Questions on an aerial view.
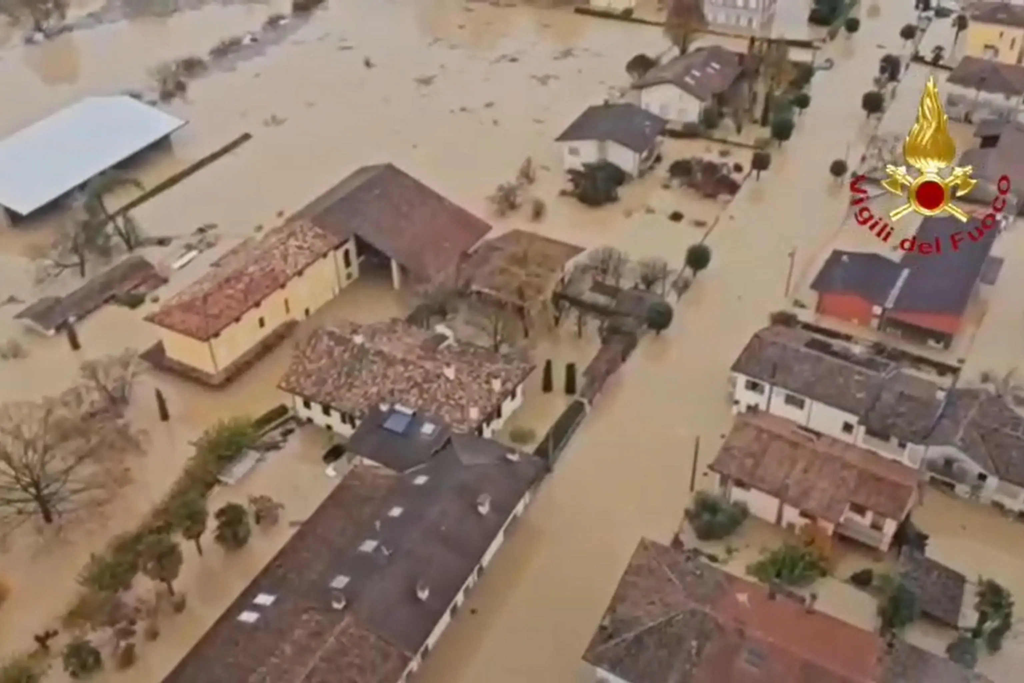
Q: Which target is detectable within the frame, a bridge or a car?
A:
car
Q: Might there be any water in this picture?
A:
Yes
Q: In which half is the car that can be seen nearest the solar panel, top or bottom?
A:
bottom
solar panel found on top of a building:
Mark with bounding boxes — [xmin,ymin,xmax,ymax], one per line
[379,396,420,437]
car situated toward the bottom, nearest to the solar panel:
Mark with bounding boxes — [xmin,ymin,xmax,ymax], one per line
[314,445,349,471]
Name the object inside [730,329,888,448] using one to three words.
house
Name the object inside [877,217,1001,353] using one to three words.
building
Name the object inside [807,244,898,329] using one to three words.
house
